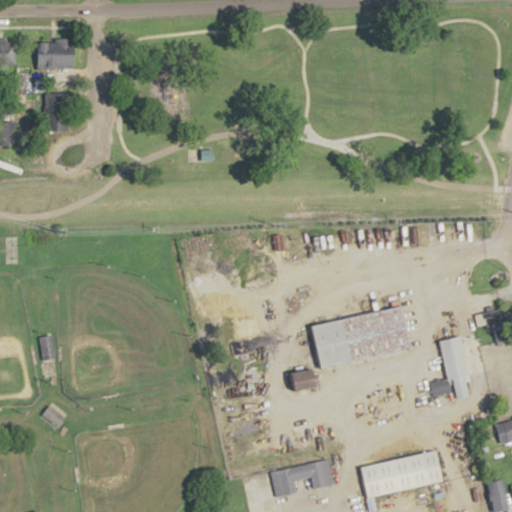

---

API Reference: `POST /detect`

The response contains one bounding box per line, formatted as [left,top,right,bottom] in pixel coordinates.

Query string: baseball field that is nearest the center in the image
[58,267,196,405]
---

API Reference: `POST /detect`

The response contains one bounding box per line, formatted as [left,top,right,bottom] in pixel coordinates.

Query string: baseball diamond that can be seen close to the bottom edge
[76,417,197,512]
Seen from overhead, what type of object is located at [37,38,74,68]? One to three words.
house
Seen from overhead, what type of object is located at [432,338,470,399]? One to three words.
shed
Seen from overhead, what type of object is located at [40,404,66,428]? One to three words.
building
